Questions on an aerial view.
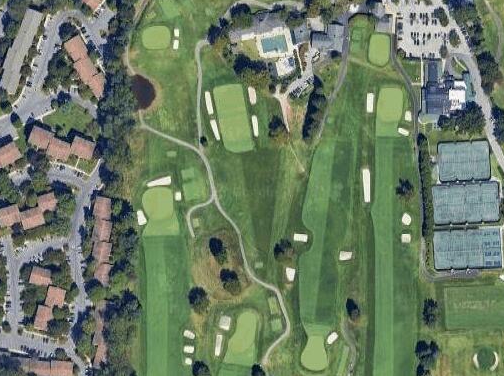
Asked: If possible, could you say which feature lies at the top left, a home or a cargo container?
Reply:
home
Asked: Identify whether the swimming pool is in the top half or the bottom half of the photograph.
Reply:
top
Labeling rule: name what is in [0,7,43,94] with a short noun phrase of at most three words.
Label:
building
